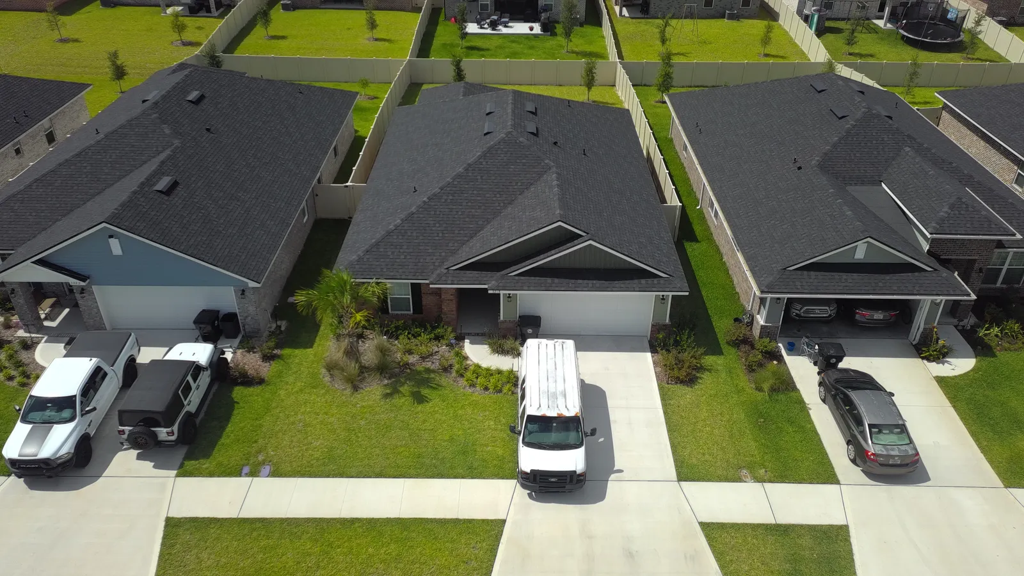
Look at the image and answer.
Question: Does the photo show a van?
Yes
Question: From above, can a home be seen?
Yes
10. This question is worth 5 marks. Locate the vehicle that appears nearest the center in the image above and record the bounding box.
[506,339,597,492]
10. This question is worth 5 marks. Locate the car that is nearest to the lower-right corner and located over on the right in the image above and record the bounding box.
[823,374,924,477]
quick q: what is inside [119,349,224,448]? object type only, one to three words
car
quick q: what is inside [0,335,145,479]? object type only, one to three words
truck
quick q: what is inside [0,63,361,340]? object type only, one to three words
house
